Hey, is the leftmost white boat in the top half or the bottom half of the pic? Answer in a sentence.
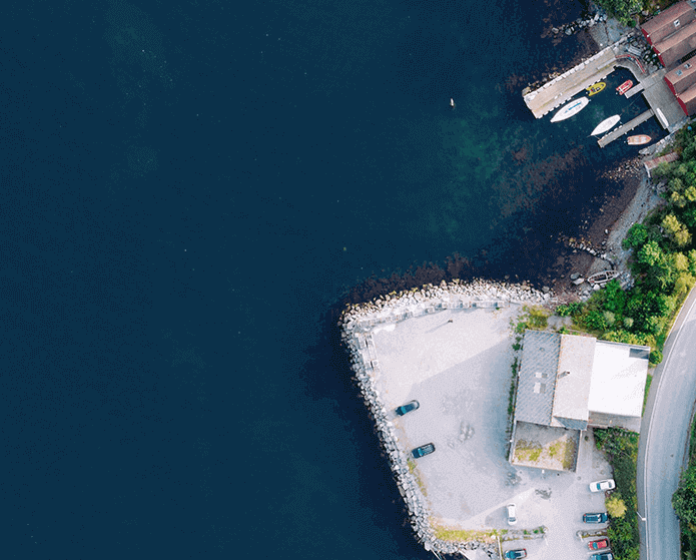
Seen from above, the leftmost white boat lies in the top half of the view.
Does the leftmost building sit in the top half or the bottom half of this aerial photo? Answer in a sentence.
The leftmost building sits in the bottom half of the picture.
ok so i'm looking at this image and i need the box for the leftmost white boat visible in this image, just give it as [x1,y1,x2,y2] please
[551,96,590,122]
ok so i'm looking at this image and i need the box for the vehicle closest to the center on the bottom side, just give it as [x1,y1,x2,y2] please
[395,400,419,416]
